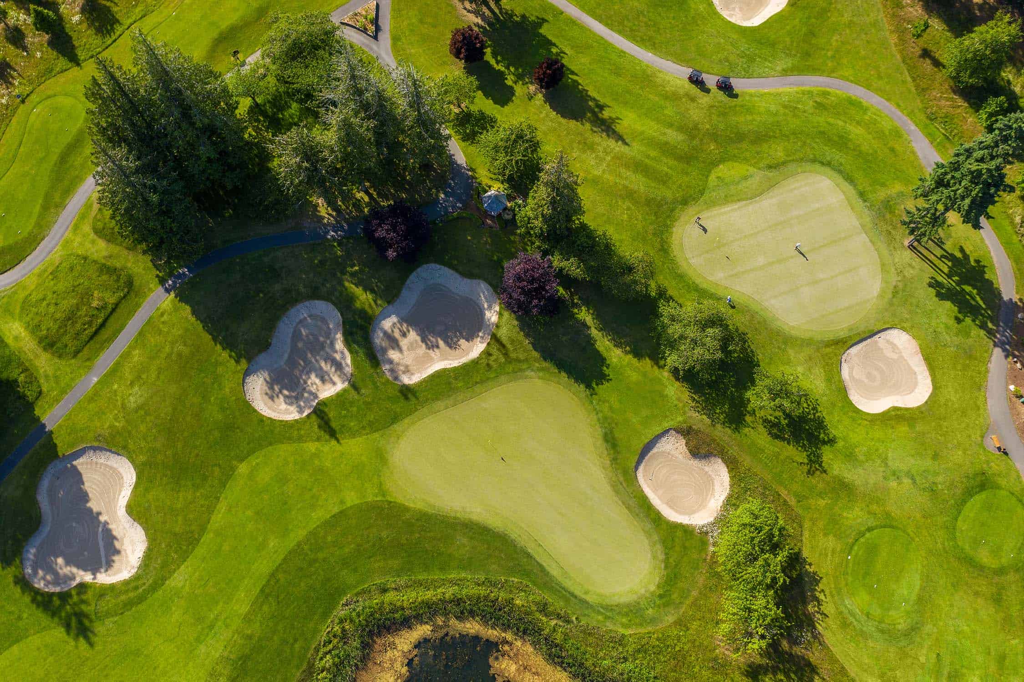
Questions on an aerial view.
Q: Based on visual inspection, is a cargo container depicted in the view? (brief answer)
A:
No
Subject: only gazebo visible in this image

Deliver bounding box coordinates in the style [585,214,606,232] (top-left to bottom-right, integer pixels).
[481,192,507,221]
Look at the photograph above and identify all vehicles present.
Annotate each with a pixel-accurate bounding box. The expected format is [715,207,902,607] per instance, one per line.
[687,69,705,86]
[716,75,734,91]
